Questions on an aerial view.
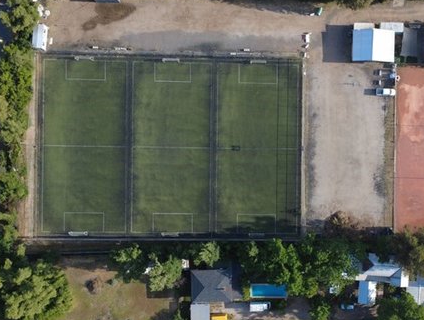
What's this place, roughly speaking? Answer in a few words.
sports ground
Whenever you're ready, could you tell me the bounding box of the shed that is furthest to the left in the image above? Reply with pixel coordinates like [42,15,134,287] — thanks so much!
[32,23,53,52]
